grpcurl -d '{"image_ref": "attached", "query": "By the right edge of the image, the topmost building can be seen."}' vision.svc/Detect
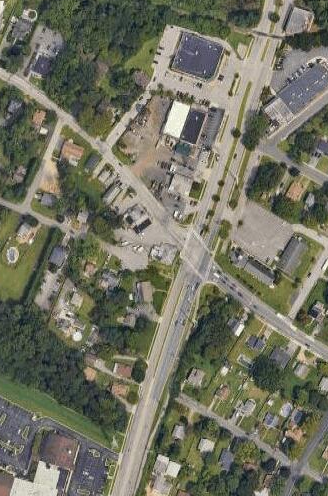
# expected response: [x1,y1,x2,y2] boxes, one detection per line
[287,9,314,35]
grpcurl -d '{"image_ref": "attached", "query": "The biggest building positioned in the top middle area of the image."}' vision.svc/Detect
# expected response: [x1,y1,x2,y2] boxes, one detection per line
[171,31,225,83]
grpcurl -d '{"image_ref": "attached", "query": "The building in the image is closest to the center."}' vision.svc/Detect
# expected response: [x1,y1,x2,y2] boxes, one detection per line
[149,244,175,264]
